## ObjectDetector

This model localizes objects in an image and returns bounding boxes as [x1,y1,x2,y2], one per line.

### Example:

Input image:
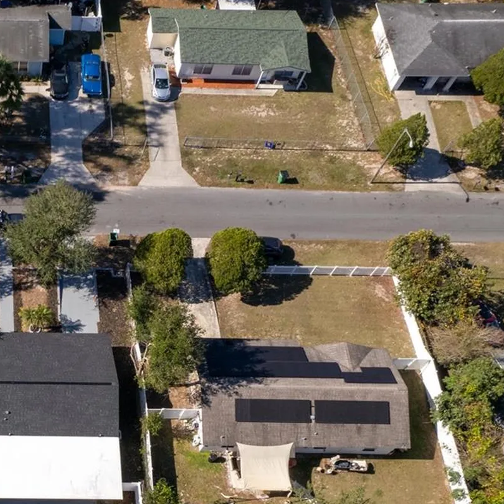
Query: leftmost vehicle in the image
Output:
[49,66,71,103]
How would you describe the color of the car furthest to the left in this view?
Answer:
black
